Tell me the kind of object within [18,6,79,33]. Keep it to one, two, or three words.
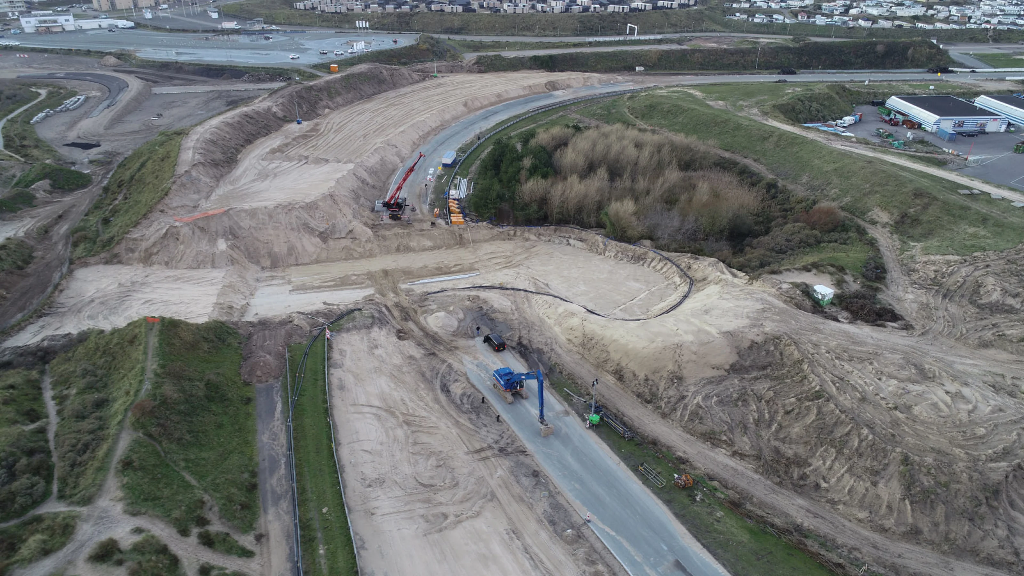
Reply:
building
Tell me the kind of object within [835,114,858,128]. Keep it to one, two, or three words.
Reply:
vehicle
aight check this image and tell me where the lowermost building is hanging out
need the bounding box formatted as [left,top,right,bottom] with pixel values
[813,280,840,303]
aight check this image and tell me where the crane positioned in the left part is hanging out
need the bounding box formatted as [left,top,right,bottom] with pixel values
[378,153,430,223]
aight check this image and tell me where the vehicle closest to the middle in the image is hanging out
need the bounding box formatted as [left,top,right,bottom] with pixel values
[480,333,507,354]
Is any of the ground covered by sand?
Yes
